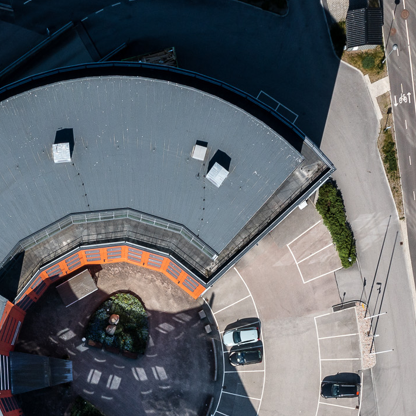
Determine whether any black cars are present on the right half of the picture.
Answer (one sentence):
Yes, a black car shows up on the right half of the picture.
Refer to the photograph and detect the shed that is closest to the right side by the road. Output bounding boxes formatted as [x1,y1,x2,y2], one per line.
[343,7,382,55]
